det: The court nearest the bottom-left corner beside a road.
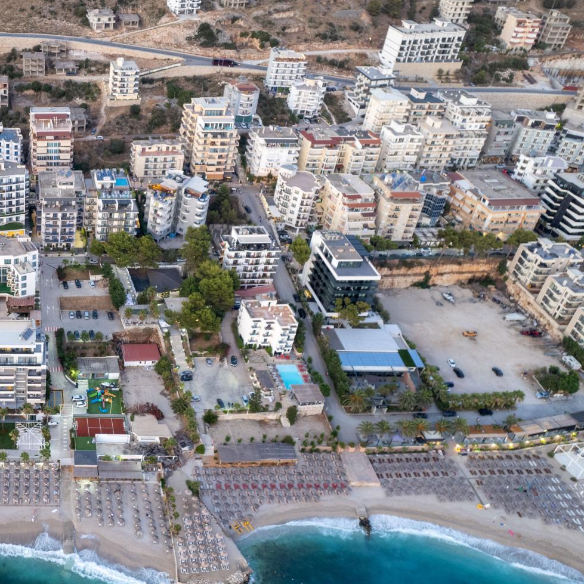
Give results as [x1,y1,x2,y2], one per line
[75,418,125,436]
